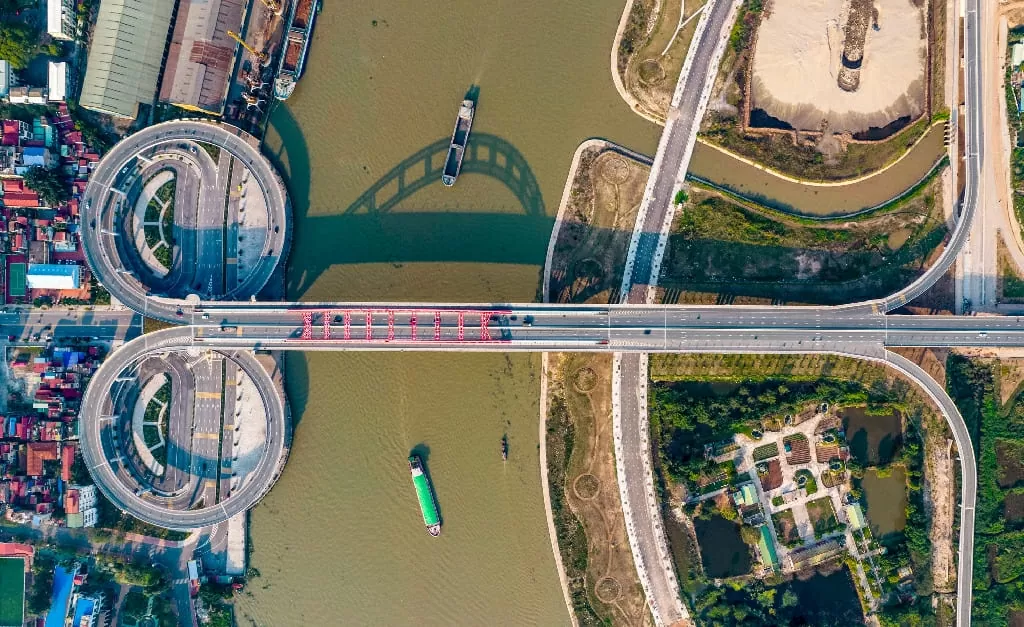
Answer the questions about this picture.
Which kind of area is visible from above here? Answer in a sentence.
This image shows a port.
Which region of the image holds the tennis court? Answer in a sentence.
You can find the tennis court in the left area of the picture.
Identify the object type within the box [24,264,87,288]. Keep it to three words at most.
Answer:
building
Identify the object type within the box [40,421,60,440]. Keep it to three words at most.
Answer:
house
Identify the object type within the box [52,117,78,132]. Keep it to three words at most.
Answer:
house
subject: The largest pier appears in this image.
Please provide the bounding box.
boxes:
[227,508,249,574]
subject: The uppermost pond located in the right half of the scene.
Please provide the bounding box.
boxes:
[652,378,857,395]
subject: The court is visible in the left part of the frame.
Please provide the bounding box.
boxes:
[6,261,29,304]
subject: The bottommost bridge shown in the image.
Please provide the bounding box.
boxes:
[169,292,1024,361]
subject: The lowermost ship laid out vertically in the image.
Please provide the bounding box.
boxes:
[408,455,440,539]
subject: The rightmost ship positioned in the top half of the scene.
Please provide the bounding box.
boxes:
[444,96,473,187]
